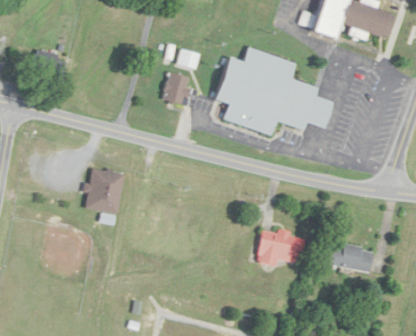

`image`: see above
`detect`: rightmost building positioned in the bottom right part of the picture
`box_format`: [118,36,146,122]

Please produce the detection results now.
[332,244,374,274]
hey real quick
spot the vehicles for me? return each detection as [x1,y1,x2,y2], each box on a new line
[366,94,374,102]
[355,74,366,79]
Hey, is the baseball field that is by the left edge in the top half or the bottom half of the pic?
bottom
